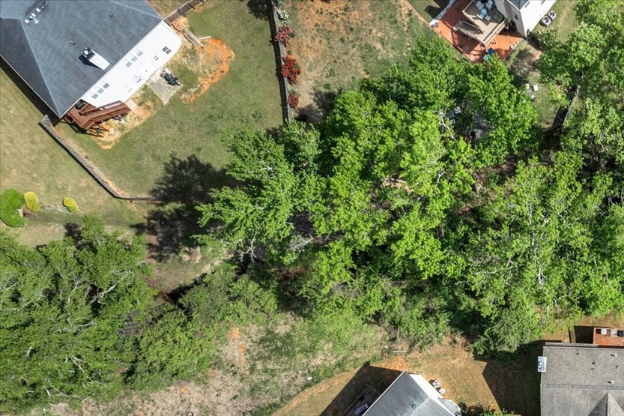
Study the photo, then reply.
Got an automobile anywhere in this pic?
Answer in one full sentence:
No, I can see no automobile in this picture.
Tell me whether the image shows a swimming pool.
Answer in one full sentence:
No, I can't see a single swimming pool in this photo.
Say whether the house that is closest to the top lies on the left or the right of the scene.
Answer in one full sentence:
The house that is closest to the top is on the right side of the image.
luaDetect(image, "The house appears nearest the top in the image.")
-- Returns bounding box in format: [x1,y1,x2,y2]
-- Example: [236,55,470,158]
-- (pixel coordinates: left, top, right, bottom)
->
[475,0,556,36]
